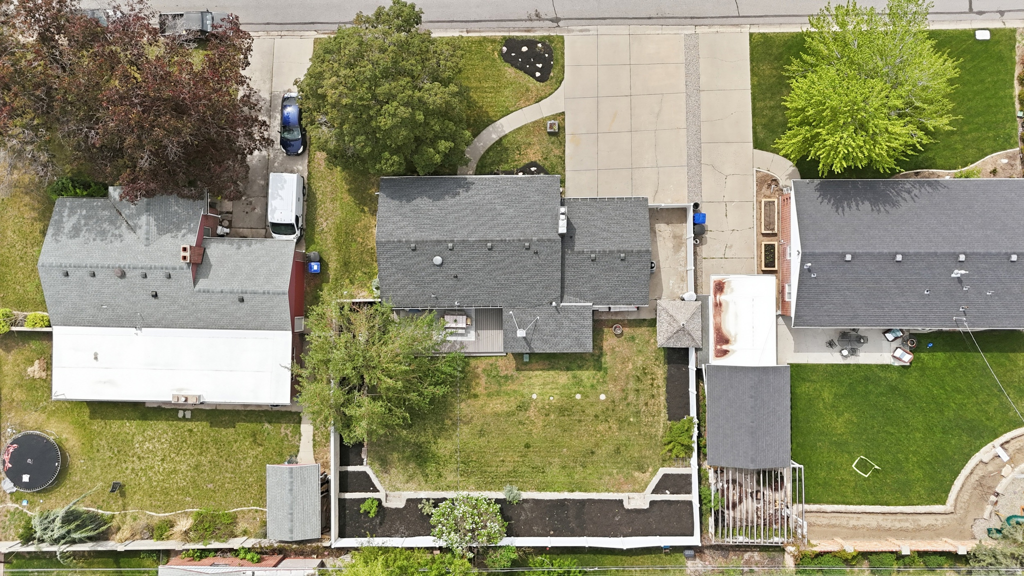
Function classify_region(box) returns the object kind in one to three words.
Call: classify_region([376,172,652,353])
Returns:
house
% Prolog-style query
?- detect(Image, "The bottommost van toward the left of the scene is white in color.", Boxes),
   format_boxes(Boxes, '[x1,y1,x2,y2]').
[270,173,308,245]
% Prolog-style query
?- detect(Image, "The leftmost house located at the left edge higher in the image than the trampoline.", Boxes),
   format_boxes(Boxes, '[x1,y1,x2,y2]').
[37,187,305,405]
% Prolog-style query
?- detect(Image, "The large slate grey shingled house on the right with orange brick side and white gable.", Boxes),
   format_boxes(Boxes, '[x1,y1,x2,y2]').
[776,178,1024,329]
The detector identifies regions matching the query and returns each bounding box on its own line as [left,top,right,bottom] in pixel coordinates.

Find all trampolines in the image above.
[3,428,71,492]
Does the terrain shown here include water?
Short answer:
No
